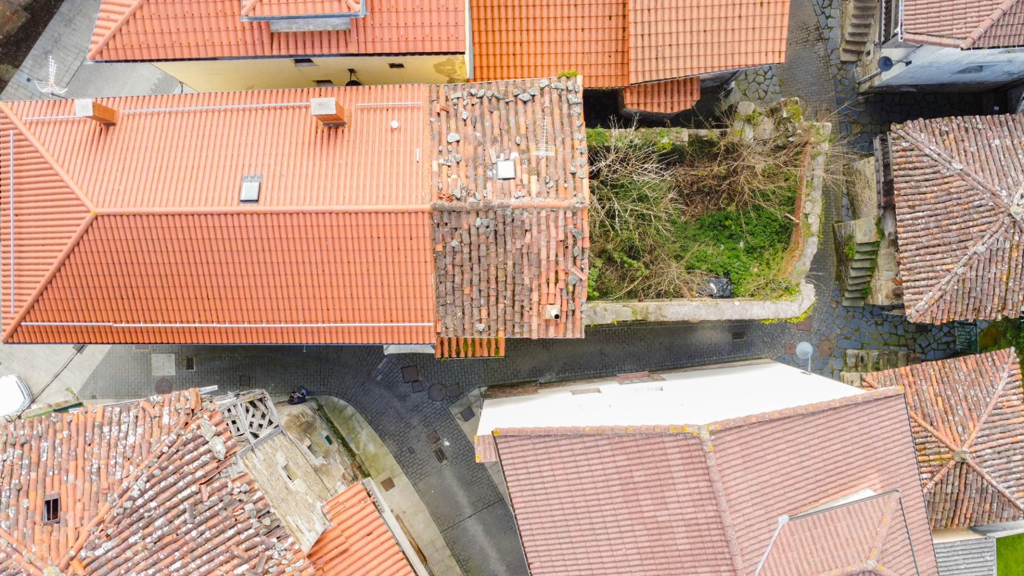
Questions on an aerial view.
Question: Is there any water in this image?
No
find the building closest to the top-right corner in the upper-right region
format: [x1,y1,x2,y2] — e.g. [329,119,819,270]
[851,0,1024,90]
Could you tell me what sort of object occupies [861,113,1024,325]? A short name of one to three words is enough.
house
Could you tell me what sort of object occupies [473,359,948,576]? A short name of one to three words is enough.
house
